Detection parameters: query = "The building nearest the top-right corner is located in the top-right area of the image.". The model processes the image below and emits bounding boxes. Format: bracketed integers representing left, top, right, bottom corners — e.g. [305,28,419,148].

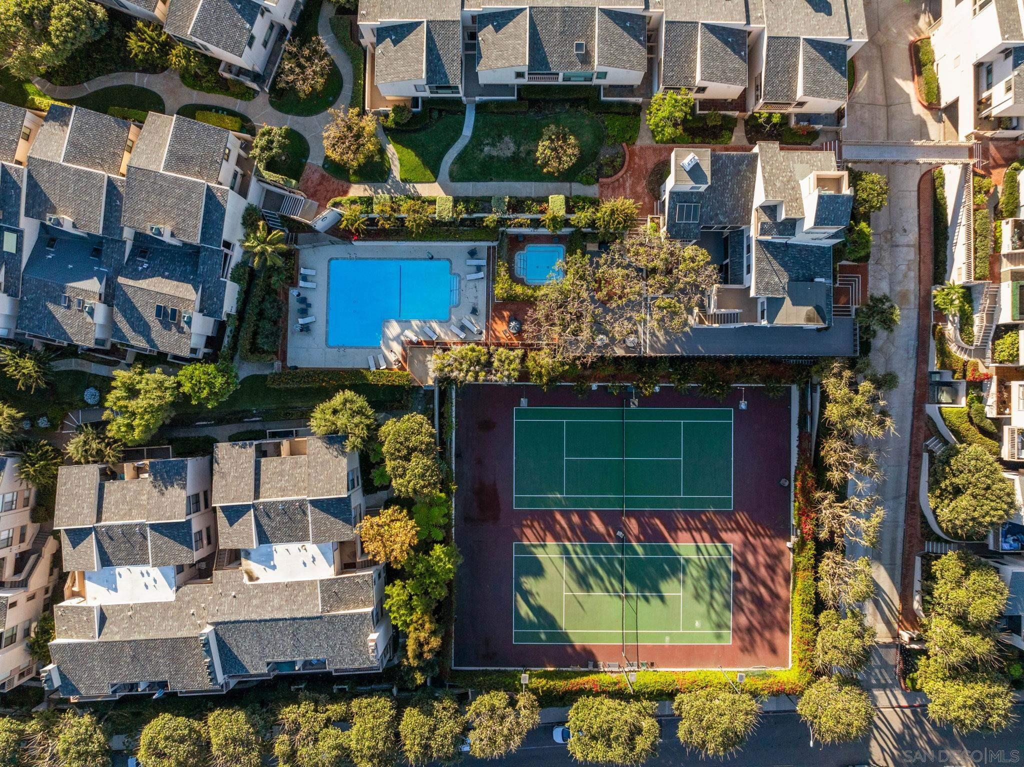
[926,0,1024,140]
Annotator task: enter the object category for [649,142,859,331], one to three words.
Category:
building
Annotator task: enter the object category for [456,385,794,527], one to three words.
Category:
tennis court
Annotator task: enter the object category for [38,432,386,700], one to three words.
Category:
house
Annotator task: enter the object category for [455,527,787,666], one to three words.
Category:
tennis court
